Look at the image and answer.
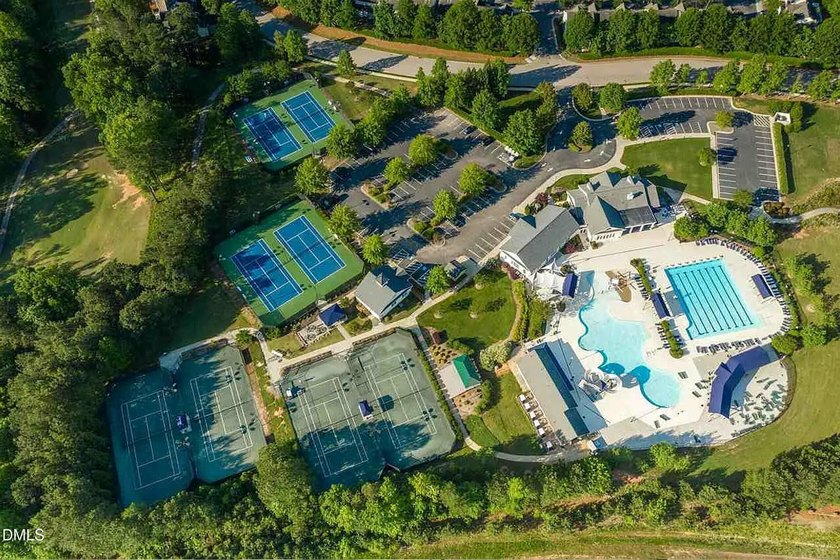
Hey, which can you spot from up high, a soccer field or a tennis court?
tennis court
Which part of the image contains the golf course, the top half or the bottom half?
top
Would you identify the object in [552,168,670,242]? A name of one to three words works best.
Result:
building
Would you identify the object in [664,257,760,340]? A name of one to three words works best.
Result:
swimming pool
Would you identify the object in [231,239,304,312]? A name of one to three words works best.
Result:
tennis court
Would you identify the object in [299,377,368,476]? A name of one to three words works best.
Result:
tennis court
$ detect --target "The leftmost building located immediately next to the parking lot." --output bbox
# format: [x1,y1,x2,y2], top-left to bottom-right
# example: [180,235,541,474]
[354,265,414,319]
